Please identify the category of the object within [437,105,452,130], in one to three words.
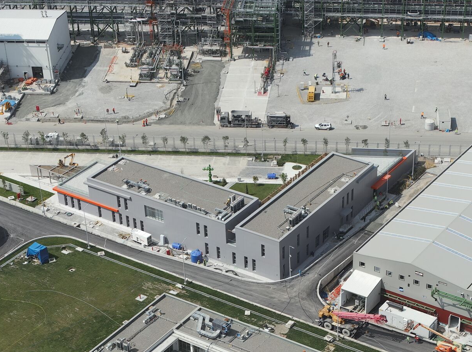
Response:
building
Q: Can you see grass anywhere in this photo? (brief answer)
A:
Yes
